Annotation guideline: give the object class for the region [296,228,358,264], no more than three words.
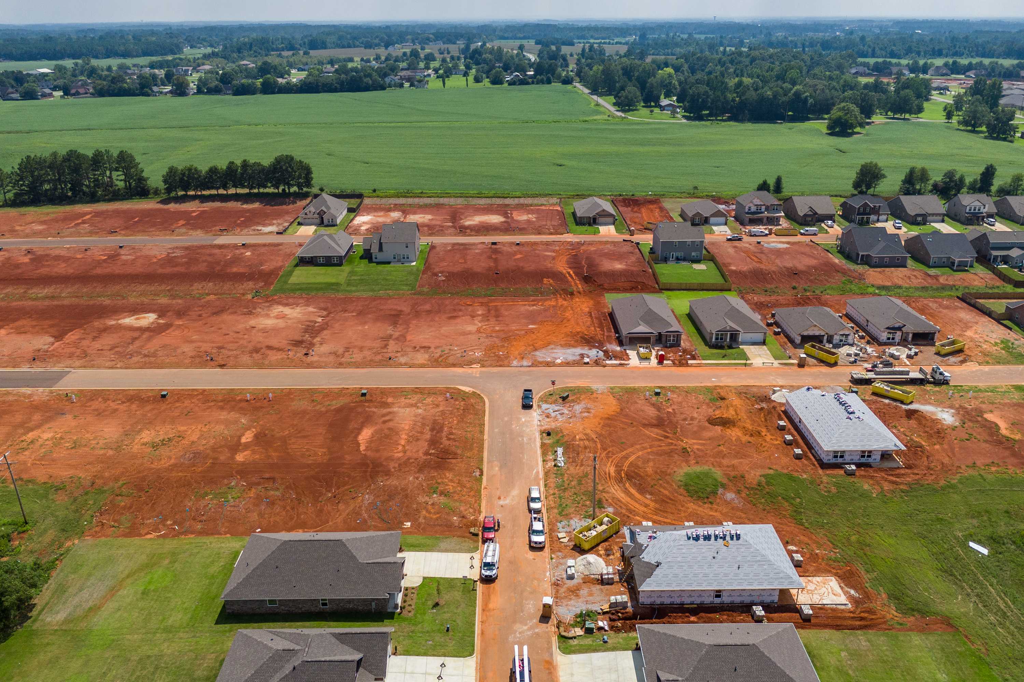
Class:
house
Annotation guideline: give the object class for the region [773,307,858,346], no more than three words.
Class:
house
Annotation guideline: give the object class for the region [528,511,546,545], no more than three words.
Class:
vehicle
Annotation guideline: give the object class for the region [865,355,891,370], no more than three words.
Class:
work vehicle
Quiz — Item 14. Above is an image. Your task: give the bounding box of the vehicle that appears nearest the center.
[521,389,534,406]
